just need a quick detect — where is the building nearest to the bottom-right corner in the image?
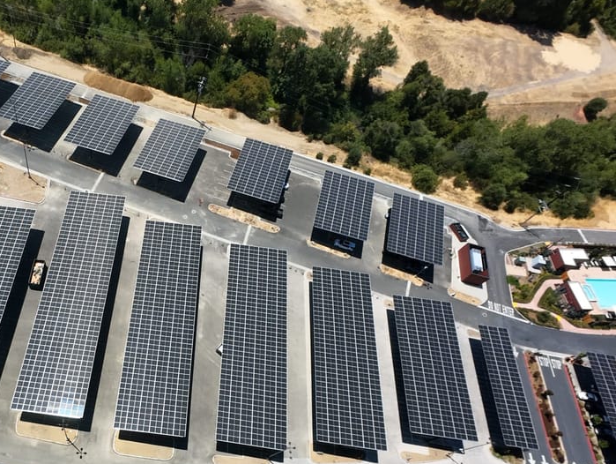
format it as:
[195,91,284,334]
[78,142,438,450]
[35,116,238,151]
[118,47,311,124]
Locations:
[556,281,594,315]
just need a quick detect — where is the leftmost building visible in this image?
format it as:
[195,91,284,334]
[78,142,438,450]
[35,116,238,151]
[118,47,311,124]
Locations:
[455,244,488,291]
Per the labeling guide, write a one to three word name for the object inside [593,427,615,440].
vehicle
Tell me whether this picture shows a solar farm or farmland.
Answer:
solar farm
